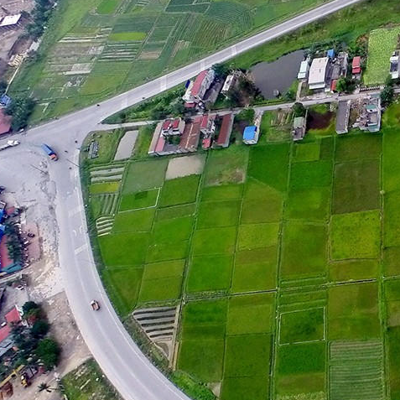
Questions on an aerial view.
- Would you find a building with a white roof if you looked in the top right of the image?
Yes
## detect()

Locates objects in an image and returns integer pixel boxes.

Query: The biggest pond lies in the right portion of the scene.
[249,48,313,99]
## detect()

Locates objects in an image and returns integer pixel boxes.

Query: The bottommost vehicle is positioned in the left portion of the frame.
[83,297,99,312]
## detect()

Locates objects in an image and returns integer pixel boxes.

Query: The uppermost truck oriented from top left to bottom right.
[33,138,58,159]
